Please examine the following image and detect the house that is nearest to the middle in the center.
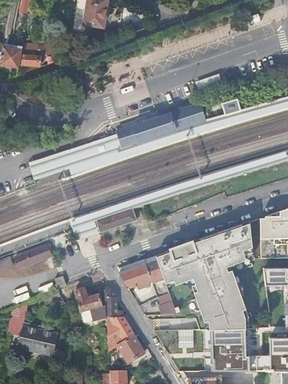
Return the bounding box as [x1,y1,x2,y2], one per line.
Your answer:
[98,209,136,232]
